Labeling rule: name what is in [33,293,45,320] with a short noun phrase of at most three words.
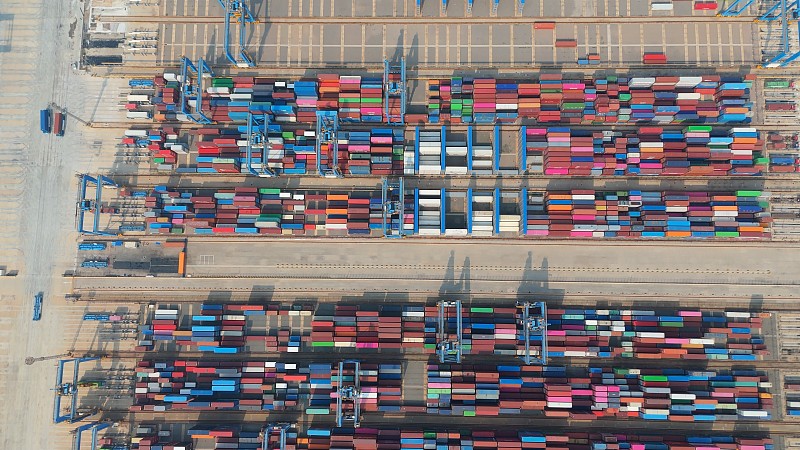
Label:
vehicle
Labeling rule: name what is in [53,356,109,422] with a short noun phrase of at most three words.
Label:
container crane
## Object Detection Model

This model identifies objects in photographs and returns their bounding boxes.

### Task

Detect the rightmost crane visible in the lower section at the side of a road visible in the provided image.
[512,301,548,366]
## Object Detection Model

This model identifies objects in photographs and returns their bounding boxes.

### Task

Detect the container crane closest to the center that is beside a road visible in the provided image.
[379,173,409,239]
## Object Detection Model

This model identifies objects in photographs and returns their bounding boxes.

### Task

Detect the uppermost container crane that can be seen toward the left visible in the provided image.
[221,0,261,67]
